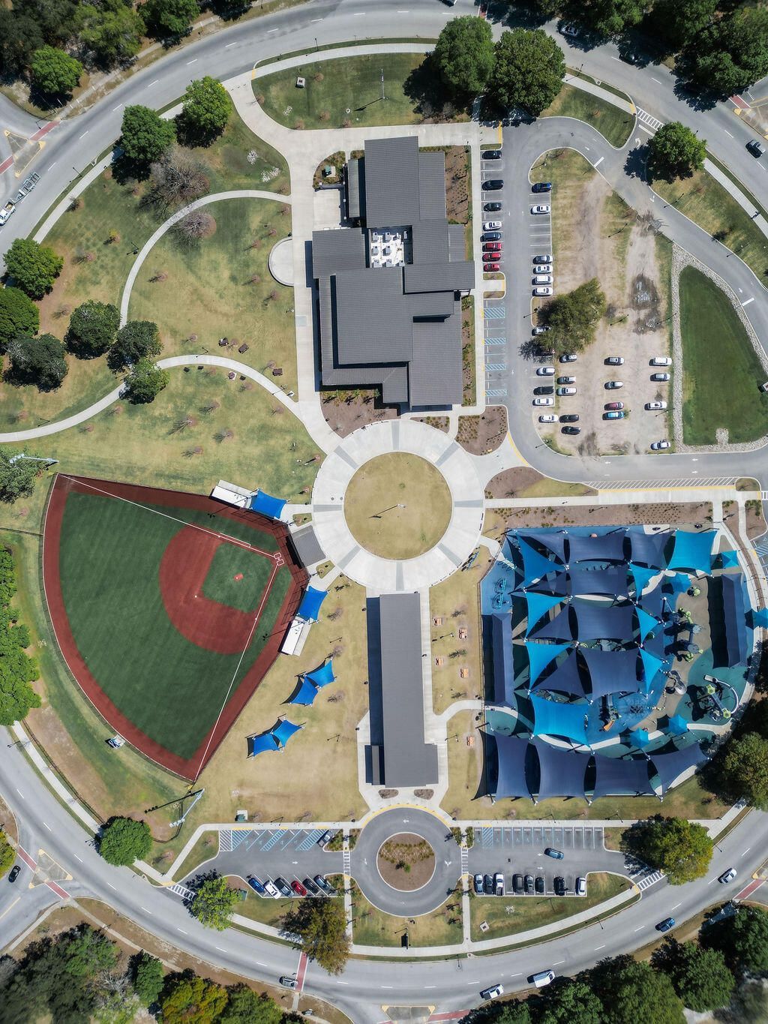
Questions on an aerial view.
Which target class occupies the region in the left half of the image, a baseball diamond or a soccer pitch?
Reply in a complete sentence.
The one visible in the left half of the image is a baseball diamond.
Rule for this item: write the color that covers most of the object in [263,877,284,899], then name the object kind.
white truck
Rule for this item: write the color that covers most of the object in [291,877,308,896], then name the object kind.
red car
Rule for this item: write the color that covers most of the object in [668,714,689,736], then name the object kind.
blue umbrella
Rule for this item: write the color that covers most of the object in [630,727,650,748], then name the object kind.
blue umbrella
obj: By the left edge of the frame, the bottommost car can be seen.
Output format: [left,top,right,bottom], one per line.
[10,862,22,883]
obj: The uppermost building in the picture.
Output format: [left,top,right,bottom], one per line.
[312,136,475,410]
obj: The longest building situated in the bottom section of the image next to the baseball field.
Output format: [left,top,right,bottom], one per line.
[372,593,438,788]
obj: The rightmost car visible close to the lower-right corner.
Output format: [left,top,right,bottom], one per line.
[717,866,736,883]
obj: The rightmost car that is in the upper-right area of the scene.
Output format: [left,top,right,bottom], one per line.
[745,140,764,159]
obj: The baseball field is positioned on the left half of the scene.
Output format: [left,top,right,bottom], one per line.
[43,474,308,781]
